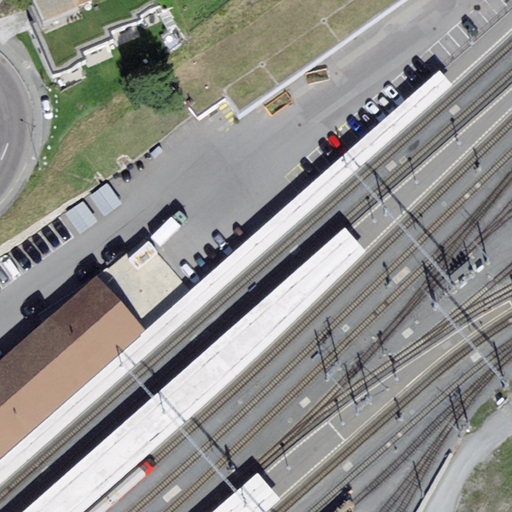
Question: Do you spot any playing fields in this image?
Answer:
No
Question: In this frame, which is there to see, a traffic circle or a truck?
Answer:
truck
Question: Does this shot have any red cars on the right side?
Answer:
Yes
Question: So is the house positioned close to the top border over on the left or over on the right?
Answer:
left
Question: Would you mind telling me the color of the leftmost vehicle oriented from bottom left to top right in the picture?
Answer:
black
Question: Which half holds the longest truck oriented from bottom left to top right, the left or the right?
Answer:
left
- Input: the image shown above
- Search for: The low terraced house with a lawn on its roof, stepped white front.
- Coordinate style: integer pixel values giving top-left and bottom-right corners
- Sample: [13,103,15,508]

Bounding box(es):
[20,0,168,76]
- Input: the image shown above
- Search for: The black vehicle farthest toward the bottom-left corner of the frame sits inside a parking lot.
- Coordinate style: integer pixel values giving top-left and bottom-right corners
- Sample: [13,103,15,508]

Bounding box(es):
[20,294,44,315]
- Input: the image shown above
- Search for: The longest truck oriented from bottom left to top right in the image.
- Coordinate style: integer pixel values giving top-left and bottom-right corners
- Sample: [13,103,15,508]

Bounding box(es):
[151,208,189,246]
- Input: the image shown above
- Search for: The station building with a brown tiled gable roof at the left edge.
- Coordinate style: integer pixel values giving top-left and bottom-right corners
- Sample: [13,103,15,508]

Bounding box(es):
[0,276,145,453]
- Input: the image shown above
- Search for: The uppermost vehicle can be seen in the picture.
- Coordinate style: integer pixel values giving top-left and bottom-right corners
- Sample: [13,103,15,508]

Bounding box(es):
[462,16,480,40]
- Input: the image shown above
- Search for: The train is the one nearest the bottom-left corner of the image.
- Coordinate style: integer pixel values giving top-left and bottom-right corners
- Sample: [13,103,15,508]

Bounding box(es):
[88,456,158,512]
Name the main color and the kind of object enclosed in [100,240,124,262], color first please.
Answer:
black vehicle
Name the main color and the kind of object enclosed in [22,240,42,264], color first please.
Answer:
black car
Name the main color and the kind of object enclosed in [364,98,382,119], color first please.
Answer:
white car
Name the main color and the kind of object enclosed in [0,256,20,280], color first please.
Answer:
white vehicle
